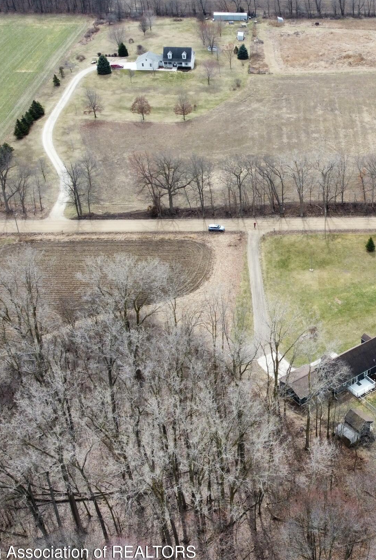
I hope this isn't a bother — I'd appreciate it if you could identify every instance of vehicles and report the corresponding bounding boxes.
[208,225,225,233]
[109,62,124,68]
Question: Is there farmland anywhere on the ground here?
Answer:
Yes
